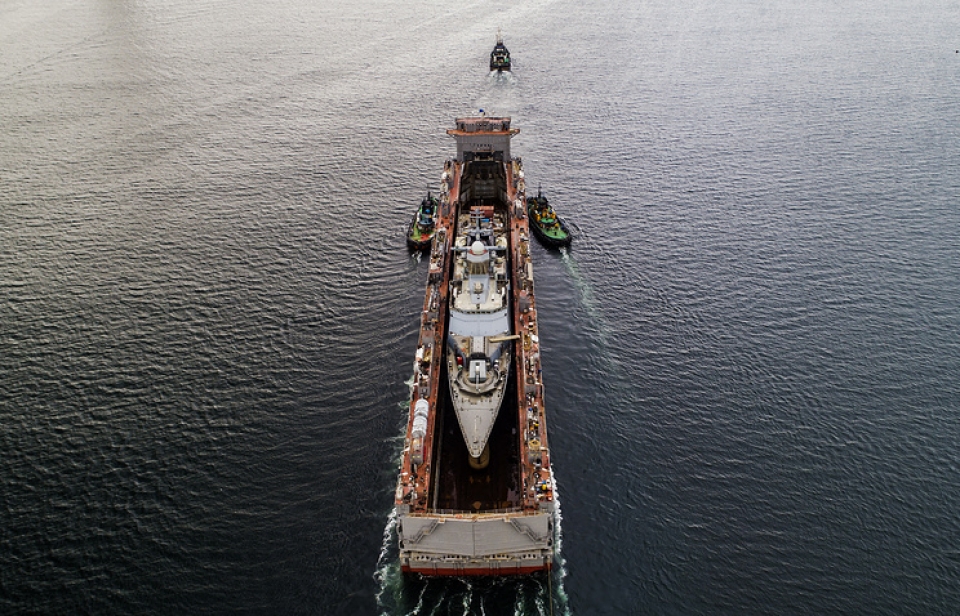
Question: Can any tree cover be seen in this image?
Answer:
No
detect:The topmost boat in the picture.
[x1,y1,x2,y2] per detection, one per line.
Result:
[489,32,512,72]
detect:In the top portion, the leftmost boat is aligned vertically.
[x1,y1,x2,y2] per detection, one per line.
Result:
[406,178,437,250]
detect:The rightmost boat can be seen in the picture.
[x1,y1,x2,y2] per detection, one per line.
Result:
[525,187,572,251]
